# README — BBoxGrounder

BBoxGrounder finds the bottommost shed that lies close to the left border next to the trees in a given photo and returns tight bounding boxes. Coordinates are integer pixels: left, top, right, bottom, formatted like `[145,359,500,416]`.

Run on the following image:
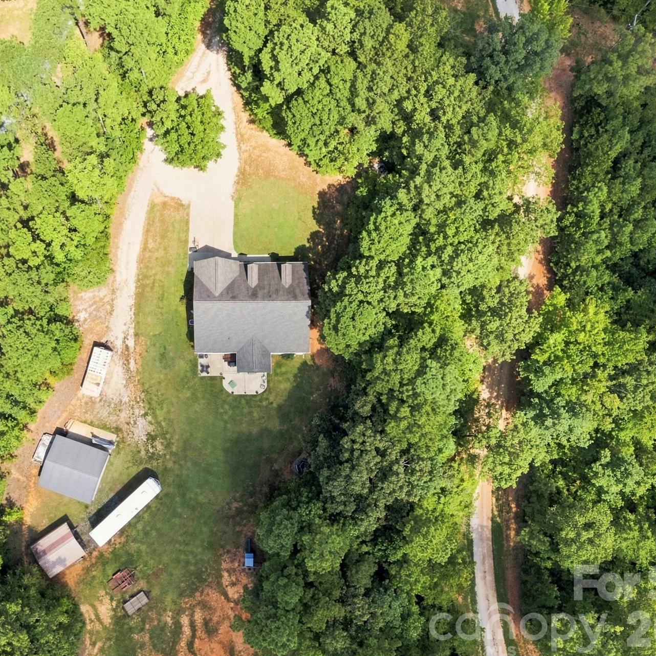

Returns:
[31,520,87,577]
